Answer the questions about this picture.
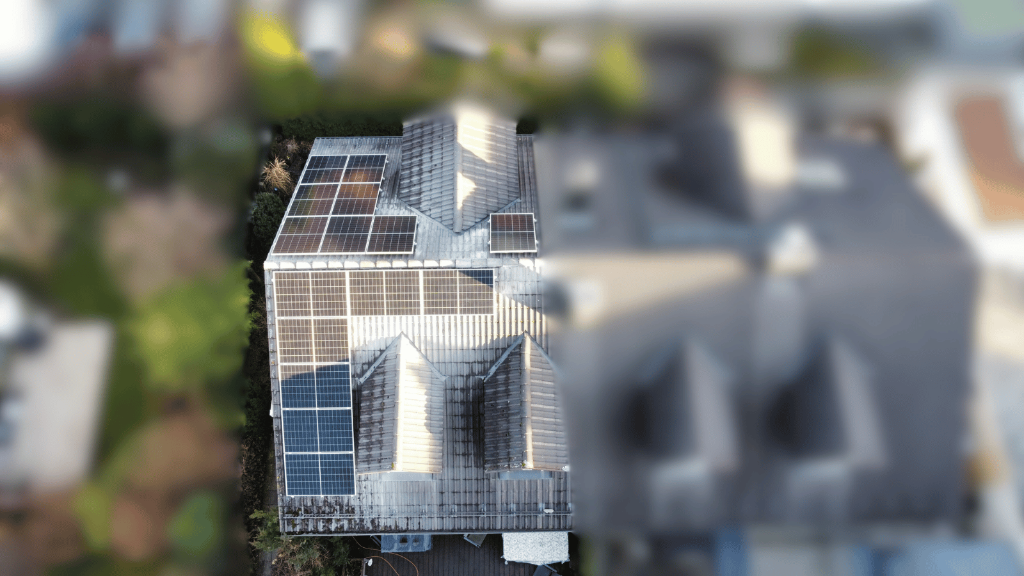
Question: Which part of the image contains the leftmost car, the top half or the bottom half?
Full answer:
The leftmost car is in the top half of the image.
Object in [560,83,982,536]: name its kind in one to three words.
house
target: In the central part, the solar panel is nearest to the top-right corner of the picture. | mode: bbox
[486,213,540,251]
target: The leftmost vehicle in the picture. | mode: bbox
[108,0,169,52]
